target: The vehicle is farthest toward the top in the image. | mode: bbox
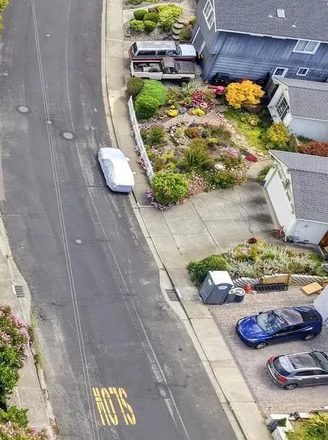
[133,39,198,64]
